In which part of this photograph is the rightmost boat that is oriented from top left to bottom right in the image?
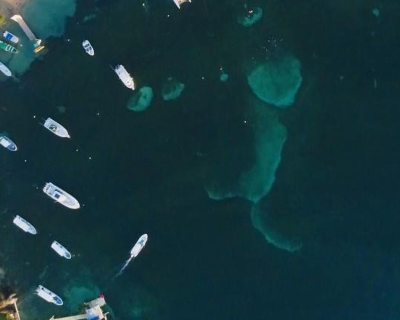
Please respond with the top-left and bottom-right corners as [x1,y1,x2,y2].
[114,61,136,90]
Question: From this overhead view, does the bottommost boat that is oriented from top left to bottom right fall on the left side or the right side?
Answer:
left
